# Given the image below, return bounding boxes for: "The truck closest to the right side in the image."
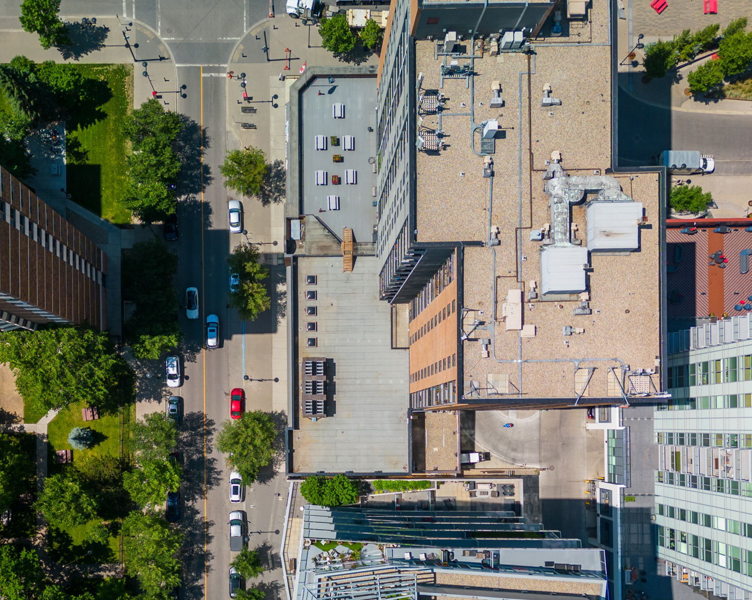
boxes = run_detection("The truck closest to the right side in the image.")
[659,152,712,176]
